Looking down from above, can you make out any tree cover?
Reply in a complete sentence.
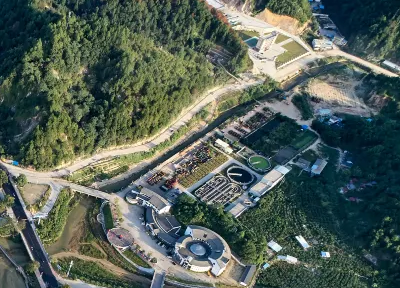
Yes, the picture does contain tree cover.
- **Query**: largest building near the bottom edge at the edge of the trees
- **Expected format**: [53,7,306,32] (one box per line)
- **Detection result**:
[173,226,233,274]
